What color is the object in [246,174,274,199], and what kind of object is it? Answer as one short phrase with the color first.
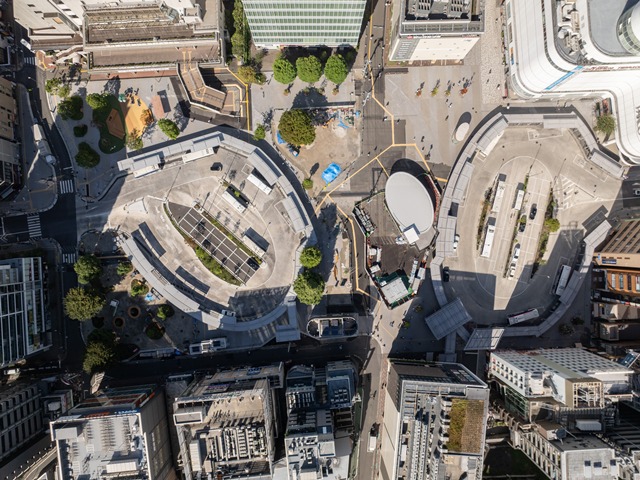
white bus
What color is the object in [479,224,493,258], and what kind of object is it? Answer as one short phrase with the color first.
white vehicle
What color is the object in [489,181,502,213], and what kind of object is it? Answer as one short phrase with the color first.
white vehicle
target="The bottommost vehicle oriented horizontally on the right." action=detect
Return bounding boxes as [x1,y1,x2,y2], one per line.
[505,308,538,323]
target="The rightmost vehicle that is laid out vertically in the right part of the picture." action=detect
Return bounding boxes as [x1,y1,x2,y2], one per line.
[552,263,569,295]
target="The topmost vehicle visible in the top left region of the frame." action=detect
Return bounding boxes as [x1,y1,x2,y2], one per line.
[17,36,34,53]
